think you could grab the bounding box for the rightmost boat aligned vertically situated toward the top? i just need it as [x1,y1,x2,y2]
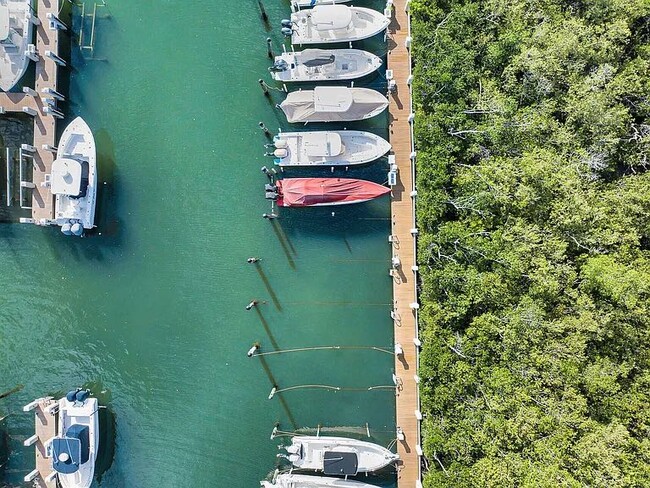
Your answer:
[40,117,101,237]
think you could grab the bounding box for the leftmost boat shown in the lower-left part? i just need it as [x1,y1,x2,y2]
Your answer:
[52,384,106,488]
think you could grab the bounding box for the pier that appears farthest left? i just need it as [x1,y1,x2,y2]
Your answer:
[0,92,36,121]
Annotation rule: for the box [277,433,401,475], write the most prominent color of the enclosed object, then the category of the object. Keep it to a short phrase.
white boat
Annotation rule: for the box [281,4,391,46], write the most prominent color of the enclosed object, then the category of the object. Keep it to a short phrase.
white boat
